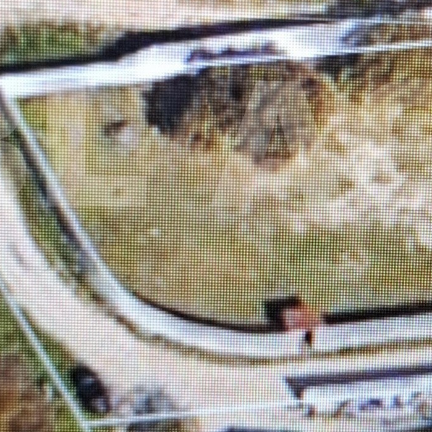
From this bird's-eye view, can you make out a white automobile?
No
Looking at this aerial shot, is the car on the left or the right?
left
